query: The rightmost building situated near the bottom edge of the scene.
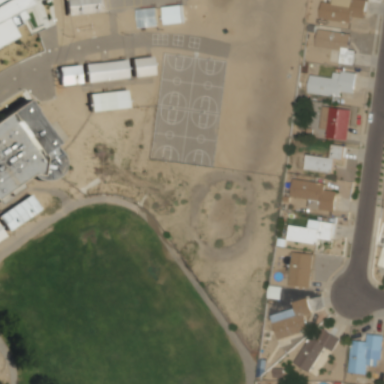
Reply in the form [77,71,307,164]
[348,335,384,376]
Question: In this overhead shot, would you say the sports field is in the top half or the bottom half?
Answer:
bottom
